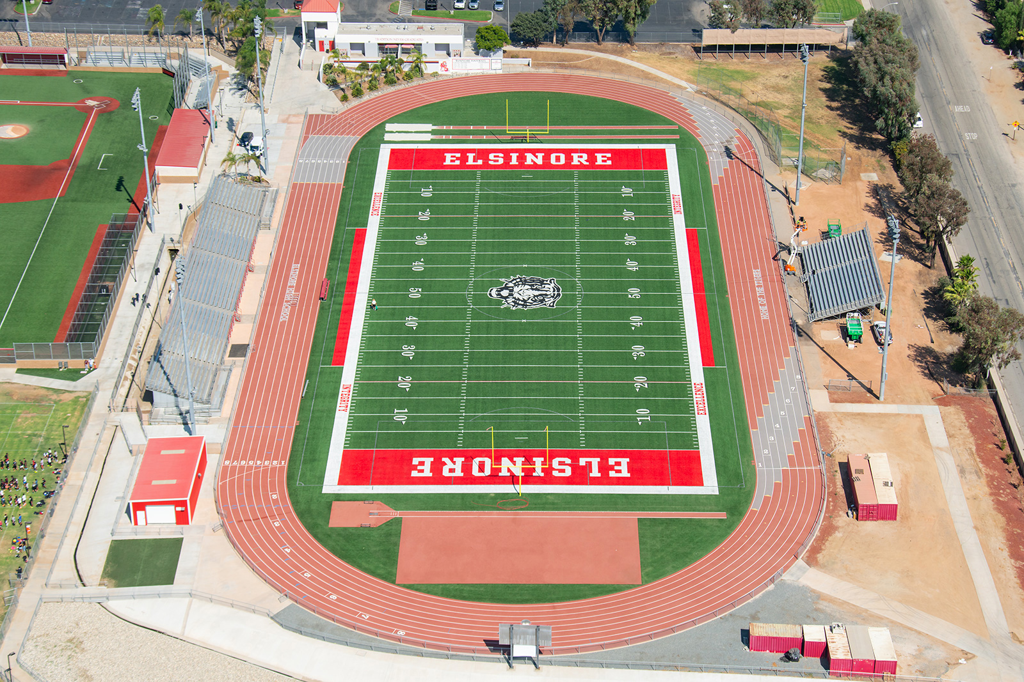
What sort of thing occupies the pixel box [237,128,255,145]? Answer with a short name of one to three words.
car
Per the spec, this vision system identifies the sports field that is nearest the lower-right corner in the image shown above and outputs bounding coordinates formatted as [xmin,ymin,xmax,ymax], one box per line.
[287,91,754,603]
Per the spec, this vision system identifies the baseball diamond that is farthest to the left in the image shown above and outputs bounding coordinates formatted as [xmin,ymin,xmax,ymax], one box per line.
[0,67,175,354]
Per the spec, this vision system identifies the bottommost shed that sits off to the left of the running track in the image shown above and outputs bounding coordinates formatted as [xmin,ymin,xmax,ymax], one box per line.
[129,436,208,525]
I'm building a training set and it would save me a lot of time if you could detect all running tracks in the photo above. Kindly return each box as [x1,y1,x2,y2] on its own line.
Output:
[213,71,829,652]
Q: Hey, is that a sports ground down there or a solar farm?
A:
sports ground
